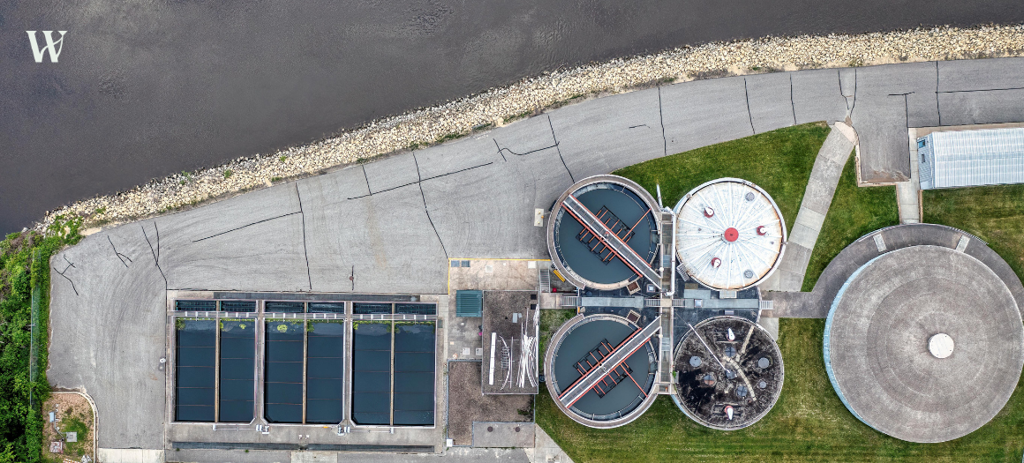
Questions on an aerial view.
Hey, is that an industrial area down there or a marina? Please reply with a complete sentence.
This image shows an industrial area.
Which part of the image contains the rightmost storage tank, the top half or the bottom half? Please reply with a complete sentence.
It is in the bottom half that the rightmost storage tank appears.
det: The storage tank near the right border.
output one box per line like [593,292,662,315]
[825,245,1024,443]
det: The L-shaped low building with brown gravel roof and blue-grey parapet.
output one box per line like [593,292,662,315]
[449,360,535,446]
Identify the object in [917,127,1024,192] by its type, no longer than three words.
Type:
building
